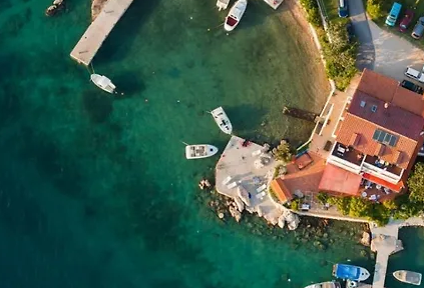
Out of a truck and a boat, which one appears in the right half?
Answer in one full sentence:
The one visible in the right half is a boat.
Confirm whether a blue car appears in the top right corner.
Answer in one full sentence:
Yes, a blue car is visible in the top right corner.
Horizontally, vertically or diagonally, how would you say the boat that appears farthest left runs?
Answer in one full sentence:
In this picture, the boat that appears farthest left lies diagonally.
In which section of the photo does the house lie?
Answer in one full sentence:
The house is in the right part of the image.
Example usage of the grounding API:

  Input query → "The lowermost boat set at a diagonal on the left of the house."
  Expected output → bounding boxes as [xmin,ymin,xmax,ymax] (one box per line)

[211,106,232,133]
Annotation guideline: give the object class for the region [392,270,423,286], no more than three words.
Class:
boat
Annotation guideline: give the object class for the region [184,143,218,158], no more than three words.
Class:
boat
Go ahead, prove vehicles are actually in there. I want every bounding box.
[336,0,348,17]
[402,64,424,83]
[412,14,424,40]
[386,1,402,26]
[399,78,424,95]
[399,8,414,31]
